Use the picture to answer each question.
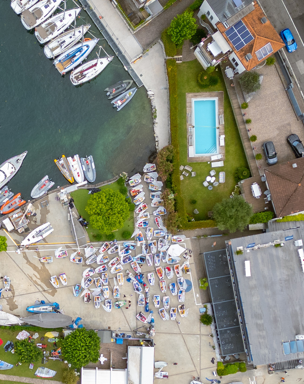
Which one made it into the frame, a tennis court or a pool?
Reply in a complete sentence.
Visible in the photo is a pool.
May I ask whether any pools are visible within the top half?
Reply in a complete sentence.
Yes, you'll find a pool within the top half.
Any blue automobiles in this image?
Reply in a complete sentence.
Yes, there is a blue automobile in the image.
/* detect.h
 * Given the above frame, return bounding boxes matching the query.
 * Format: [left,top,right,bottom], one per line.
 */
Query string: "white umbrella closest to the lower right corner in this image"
[168,245,186,257]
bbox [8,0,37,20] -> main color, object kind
white boat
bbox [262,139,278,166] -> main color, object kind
gray car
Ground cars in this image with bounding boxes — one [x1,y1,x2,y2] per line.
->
[262,139,278,166]
[287,133,304,158]
[279,27,297,54]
